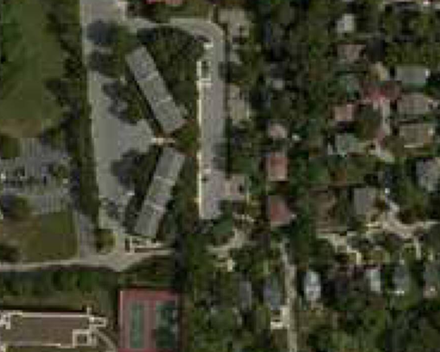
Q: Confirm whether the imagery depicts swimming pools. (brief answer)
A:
No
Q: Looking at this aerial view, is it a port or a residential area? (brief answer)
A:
residential area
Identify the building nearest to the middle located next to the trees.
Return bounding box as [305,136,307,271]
[215,175,245,202]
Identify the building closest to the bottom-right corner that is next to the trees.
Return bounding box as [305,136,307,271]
[424,271,438,298]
